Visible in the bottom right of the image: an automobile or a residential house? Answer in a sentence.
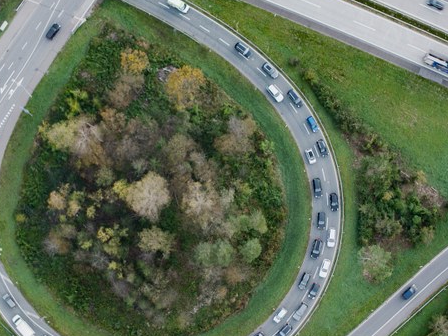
You can see an automobile in the bottom right of the image.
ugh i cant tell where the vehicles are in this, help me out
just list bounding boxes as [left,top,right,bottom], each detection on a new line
[304,147,316,166]
[329,193,338,211]
[316,139,328,157]
[326,227,336,247]
[421,52,448,73]
[312,177,322,198]
[266,84,283,103]
[318,258,331,278]
[271,306,289,324]
[286,88,303,109]
[307,281,320,299]
[274,322,292,336]
[1,291,17,311]
[233,41,253,59]
[261,61,279,80]
[292,302,308,321]
[10,314,36,336]
[306,115,319,134]
[424,0,445,12]
[310,238,322,259]
[317,210,325,231]
[167,0,189,13]
[297,271,310,290]
[400,283,417,300]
